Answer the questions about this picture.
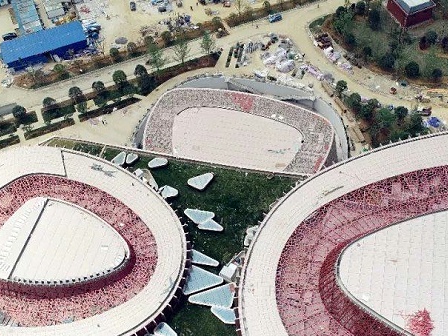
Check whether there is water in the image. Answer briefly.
No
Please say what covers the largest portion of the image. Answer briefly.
buildings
